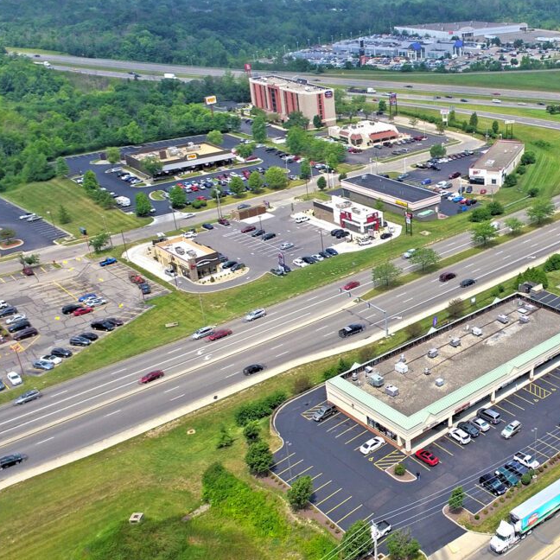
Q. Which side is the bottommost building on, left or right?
right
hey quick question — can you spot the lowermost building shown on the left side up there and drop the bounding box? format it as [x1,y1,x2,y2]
[152,234,223,282]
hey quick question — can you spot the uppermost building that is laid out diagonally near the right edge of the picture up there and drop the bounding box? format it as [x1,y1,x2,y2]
[470,141,535,186]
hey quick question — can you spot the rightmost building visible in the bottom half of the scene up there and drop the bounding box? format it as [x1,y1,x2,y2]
[329,287,560,457]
